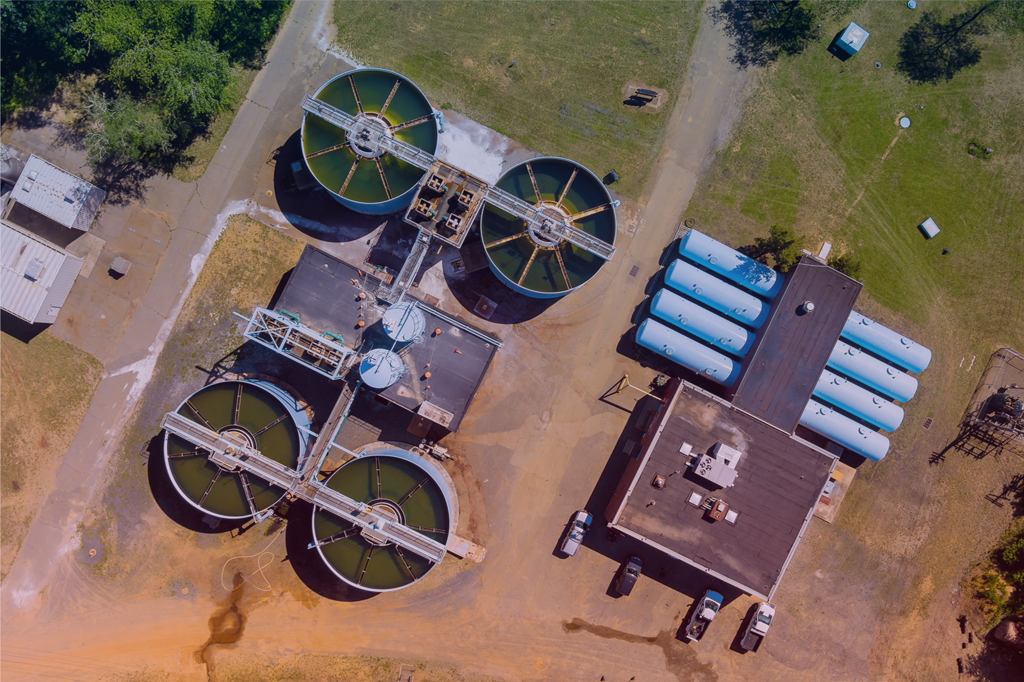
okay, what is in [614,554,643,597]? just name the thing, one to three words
car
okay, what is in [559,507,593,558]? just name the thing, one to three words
truck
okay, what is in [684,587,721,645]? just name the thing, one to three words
truck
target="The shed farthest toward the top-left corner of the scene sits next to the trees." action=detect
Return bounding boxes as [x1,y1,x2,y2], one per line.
[9,153,107,230]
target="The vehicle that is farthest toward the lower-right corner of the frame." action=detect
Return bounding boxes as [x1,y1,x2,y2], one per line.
[737,599,778,655]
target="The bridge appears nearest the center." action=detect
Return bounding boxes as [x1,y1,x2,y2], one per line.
[484,183,617,260]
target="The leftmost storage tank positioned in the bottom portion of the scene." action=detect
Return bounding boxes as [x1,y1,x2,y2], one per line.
[156,372,322,523]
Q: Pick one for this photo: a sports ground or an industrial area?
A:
industrial area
